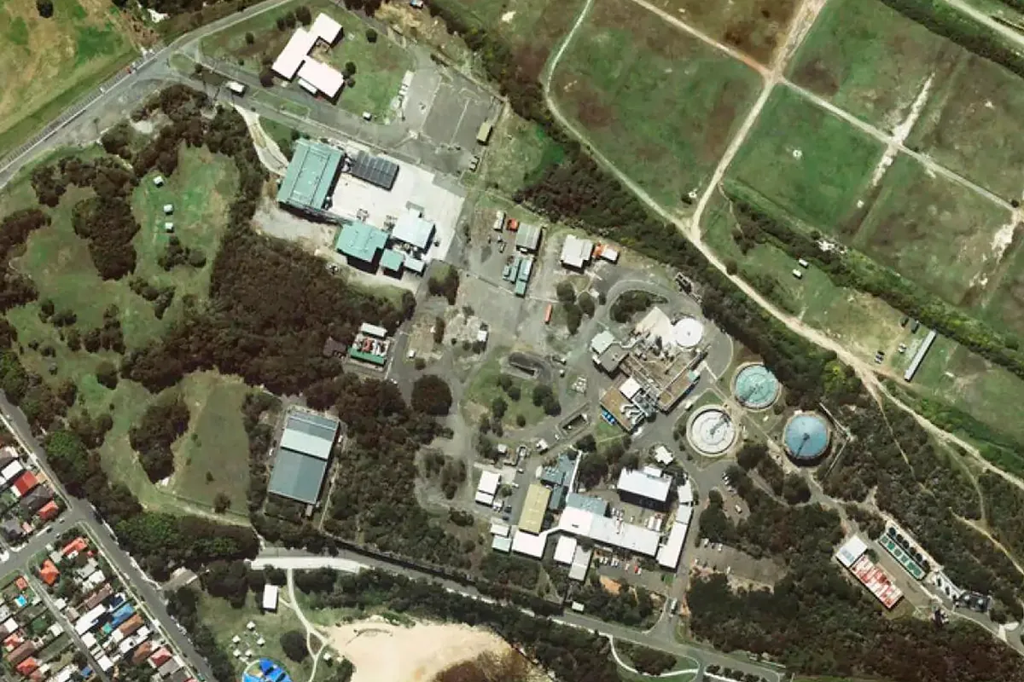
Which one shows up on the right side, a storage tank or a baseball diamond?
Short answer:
storage tank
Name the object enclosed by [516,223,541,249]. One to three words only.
shed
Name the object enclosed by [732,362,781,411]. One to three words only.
storage tank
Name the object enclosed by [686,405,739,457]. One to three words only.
storage tank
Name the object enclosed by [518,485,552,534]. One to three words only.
building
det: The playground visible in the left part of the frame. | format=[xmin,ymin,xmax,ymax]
[242,658,289,682]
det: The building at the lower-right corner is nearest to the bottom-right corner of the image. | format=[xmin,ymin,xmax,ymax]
[851,556,903,608]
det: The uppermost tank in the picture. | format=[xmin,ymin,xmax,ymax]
[672,318,704,347]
